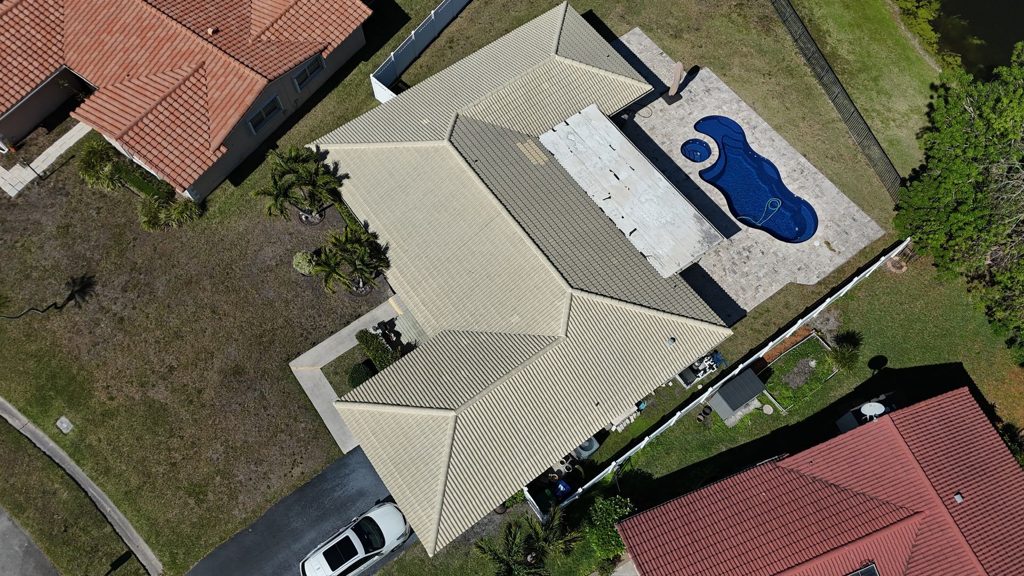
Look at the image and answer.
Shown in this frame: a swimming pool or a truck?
swimming pool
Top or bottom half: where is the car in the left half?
bottom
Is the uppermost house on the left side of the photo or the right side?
left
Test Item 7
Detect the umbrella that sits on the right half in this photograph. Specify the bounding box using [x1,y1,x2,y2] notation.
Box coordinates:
[661,62,684,107]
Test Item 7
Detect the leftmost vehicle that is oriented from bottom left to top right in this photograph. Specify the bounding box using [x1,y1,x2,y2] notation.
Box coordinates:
[302,502,413,576]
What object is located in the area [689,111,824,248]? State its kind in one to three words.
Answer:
swimming pool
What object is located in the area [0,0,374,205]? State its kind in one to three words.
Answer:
house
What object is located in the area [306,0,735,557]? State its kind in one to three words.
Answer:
house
